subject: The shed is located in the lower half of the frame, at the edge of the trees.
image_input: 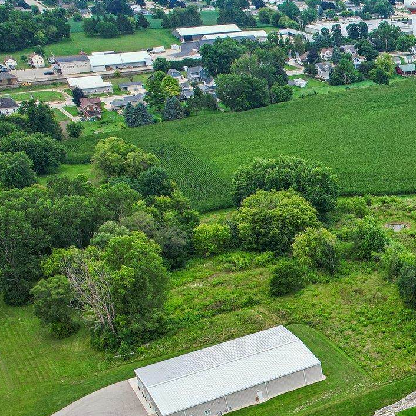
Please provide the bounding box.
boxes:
[134,325,322,416]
